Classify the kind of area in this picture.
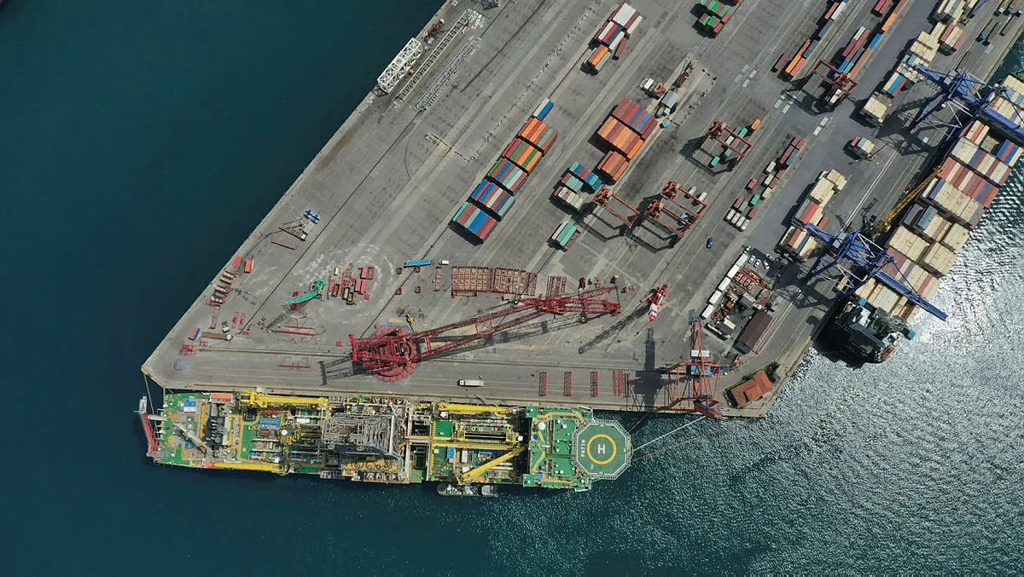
port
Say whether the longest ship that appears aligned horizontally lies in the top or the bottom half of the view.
bottom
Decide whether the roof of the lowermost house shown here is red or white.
red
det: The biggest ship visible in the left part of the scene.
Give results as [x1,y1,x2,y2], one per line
[135,389,636,492]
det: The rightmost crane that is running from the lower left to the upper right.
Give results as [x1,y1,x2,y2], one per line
[862,167,940,240]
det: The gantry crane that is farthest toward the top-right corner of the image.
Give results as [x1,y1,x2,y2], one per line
[909,59,1024,145]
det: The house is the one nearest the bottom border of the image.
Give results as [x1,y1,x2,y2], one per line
[725,367,777,408]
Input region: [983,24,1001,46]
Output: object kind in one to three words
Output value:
vehicle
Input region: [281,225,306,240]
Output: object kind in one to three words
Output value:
vehicle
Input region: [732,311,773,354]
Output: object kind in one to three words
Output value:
building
